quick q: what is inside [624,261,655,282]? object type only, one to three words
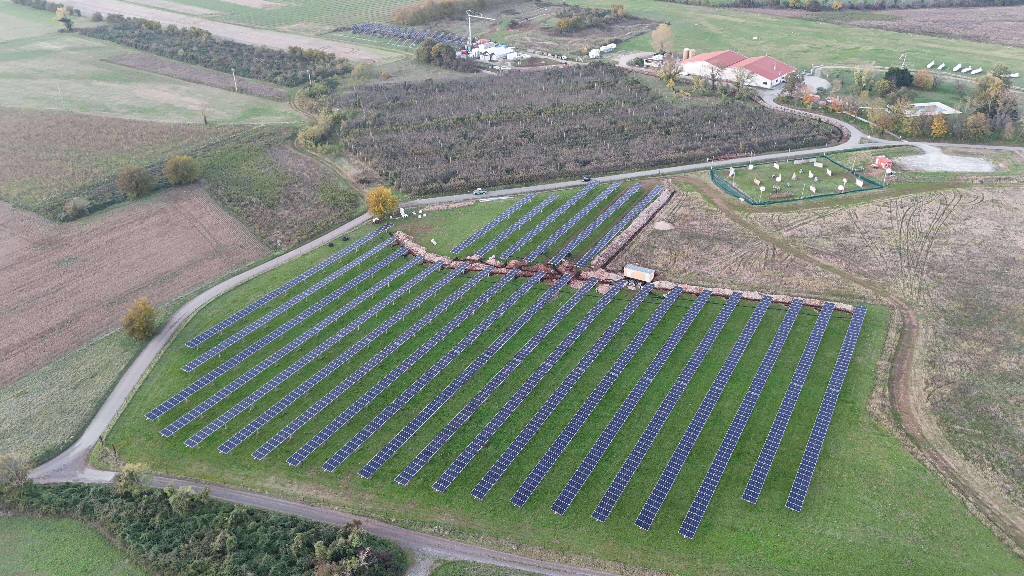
building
